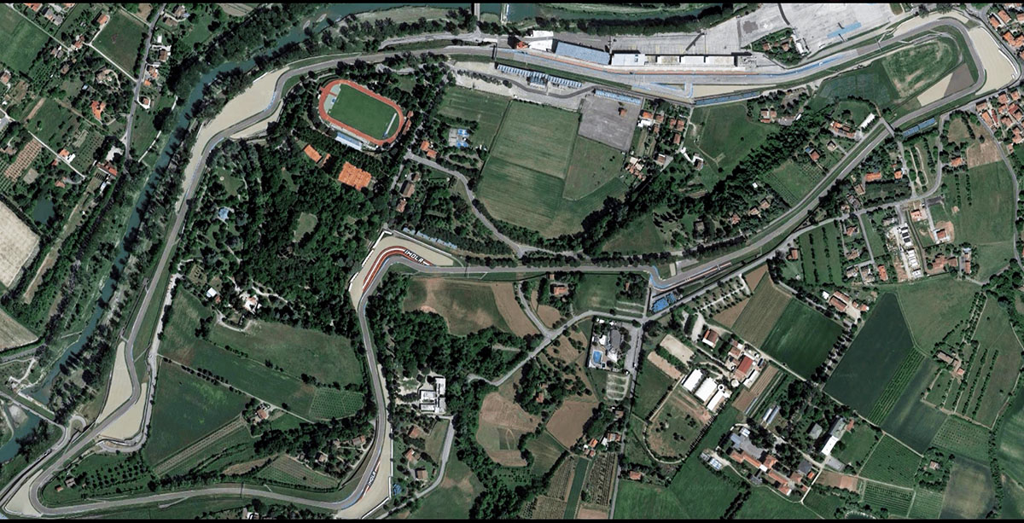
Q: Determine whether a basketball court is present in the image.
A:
No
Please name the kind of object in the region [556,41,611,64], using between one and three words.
building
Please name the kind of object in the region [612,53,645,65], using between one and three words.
building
